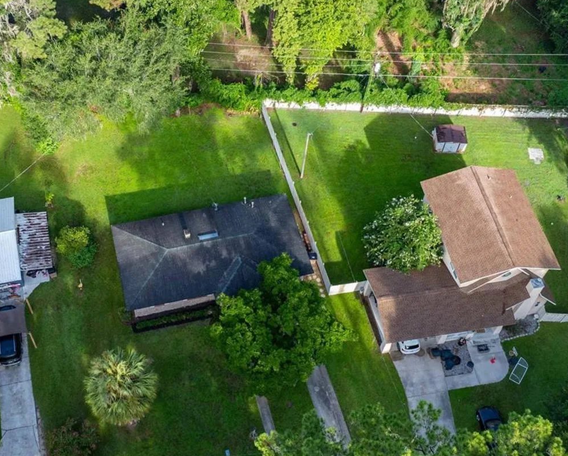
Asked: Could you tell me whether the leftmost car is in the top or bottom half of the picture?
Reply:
bottom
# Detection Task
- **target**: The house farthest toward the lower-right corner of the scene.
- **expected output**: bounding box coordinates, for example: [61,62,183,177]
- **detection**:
[363,166,562,352]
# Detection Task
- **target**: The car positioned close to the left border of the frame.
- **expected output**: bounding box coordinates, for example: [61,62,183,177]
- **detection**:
[0,333,23,361]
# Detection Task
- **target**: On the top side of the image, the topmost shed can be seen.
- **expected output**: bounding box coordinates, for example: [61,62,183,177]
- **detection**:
[432,124,470,153]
